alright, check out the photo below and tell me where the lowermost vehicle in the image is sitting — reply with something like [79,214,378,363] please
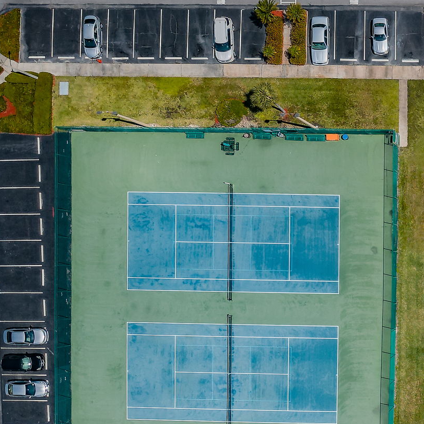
[5,379,52,399]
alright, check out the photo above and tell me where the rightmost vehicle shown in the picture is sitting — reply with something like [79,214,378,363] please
[371,16,390,57]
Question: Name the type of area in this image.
sports ground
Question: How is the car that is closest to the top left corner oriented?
from top to bottom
